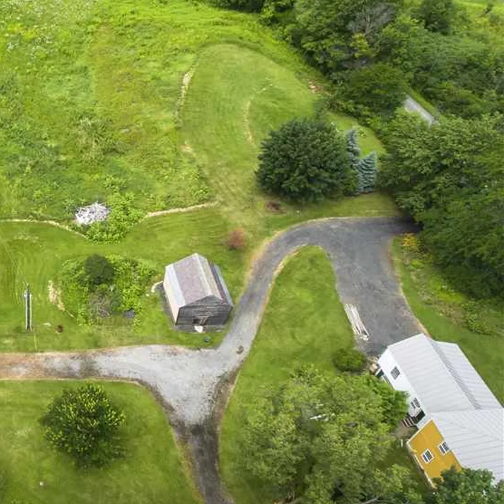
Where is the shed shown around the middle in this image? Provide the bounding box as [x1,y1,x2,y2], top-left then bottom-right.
[163,253,236,333]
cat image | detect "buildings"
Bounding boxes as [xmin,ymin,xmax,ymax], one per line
[163,253,236,333]
[376,331,504,499]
